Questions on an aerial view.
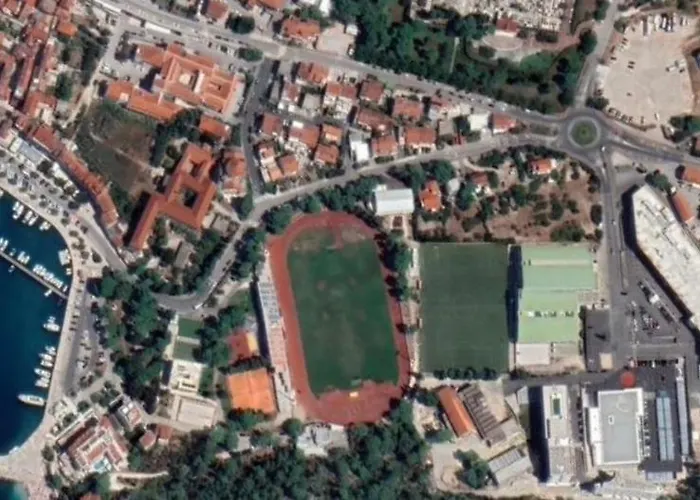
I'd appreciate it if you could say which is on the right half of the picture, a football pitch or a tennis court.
football pitch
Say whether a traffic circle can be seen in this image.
Yes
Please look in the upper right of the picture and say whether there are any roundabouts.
Yes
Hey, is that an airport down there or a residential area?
residential area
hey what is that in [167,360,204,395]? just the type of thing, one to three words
building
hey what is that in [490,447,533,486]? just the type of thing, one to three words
shed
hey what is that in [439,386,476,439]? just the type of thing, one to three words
building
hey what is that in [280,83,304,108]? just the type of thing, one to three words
house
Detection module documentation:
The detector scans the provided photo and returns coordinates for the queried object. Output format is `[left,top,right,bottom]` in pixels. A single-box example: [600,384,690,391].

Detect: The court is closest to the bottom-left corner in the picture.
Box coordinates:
[176,397,217,425]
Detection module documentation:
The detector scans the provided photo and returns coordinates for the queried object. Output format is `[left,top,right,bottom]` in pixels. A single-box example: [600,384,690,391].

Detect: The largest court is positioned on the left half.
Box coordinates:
[227,370,275,413]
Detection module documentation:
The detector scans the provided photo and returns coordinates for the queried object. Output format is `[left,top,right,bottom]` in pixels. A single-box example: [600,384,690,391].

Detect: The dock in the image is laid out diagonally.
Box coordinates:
[0,251,70,300]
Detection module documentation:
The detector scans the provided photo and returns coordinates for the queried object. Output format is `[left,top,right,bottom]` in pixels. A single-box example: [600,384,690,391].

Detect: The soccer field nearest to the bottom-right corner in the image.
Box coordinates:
[420,243,509,373]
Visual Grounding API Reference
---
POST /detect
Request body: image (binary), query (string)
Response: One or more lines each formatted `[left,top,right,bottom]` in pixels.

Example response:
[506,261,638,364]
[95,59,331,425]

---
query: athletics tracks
[268,211,412,426]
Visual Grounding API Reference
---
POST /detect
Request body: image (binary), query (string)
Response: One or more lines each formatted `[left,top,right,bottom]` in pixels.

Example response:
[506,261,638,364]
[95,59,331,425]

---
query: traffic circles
[554,103,613,162]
